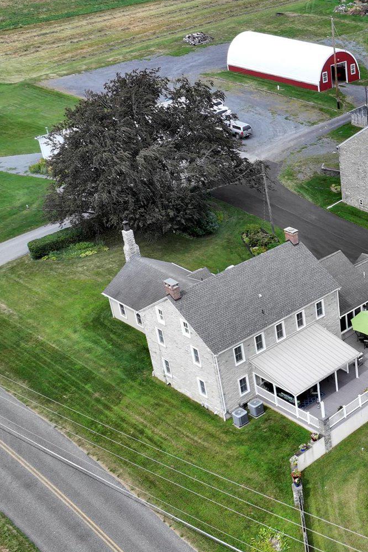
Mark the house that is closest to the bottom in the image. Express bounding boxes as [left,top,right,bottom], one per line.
[104,225,368,420]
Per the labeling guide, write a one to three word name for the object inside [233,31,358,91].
shed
